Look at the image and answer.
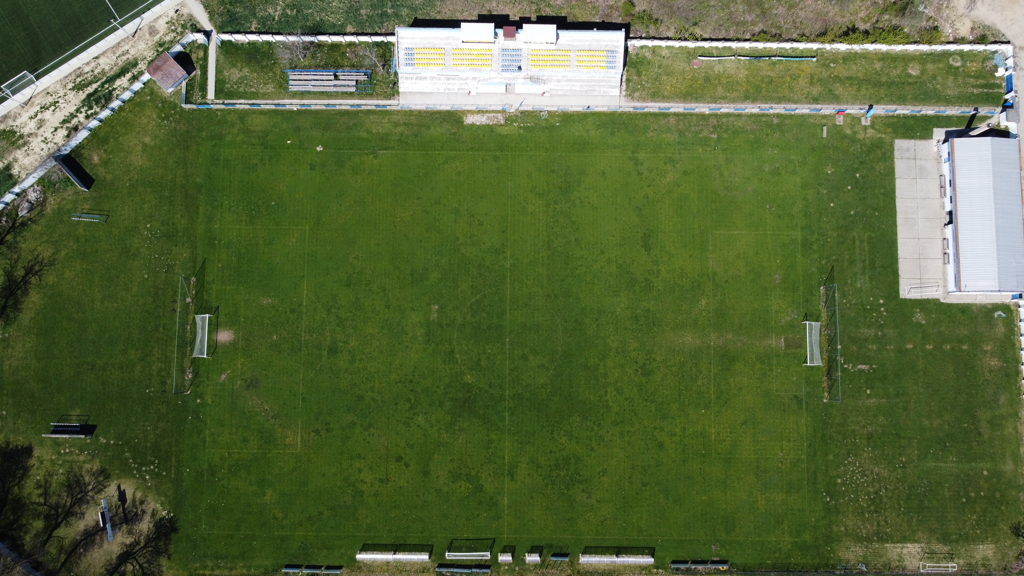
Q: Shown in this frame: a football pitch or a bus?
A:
football pitch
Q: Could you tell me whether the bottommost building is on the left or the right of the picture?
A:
right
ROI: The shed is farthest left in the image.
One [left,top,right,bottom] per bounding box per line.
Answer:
[146,52,190,94]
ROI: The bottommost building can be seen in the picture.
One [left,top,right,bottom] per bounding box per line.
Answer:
[940,135,1024,293]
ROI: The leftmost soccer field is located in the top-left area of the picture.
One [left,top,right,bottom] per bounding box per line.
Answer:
[0,0,159,98]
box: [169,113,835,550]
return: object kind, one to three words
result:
soccer field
